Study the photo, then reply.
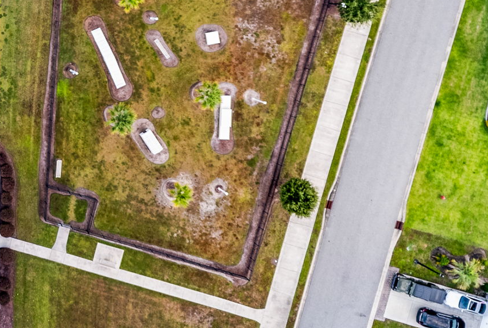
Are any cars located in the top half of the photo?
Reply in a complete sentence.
No, there's no car to be seen in the top half of the photo.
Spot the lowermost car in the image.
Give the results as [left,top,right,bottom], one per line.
[418,307,466,328]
